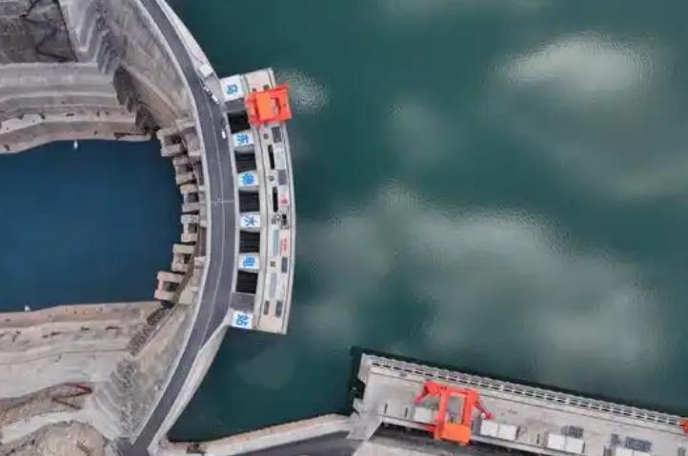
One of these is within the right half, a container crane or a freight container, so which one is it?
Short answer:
container crane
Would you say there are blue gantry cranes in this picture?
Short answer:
No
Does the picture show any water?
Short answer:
Yes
